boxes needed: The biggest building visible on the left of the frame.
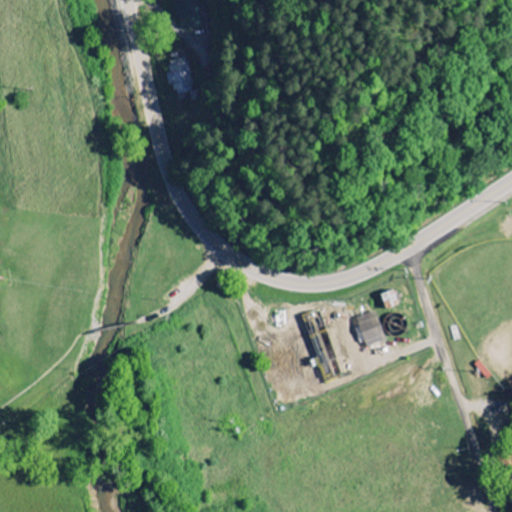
[166,58,194,94]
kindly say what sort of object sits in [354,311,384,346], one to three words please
shed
